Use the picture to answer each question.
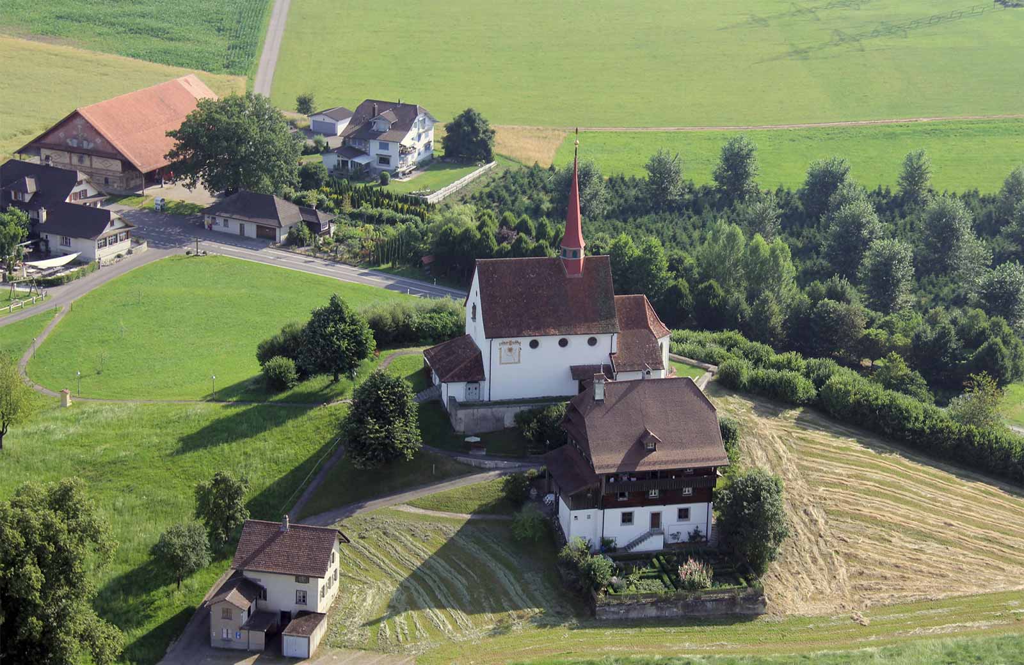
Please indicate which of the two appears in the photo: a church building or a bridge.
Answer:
church building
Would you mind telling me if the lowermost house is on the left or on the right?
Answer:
left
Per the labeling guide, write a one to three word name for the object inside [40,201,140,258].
house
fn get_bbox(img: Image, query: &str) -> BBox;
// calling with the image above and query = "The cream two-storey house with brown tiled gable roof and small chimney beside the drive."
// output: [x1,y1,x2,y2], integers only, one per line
[205,511,350,657]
